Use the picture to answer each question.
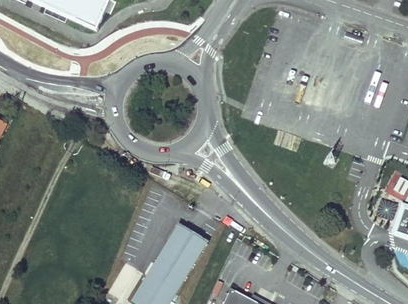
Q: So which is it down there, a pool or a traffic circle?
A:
traffic circle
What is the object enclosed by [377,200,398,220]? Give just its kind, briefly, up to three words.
gazebo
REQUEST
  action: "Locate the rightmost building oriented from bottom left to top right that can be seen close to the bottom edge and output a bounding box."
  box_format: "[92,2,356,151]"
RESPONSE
[132,223,210,304]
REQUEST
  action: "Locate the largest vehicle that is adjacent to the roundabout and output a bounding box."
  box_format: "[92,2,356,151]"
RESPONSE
[150,168,172,182]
